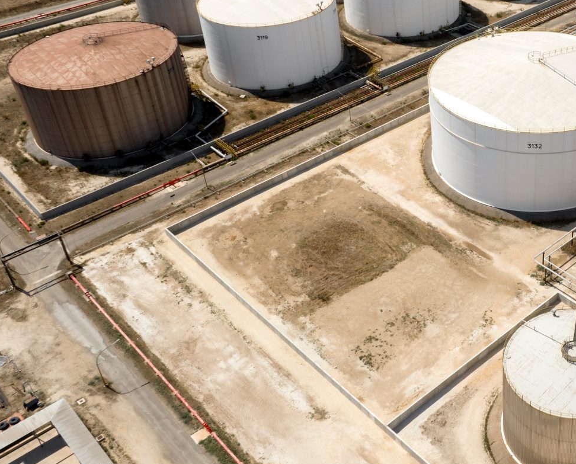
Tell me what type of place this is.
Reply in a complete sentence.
What you see here is an industrial area.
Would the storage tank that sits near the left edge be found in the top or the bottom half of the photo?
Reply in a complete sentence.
You can find the storage tank that sits near the left edge in the top half.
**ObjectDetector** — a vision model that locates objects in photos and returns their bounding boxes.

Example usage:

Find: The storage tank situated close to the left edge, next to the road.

[7,18,208,168]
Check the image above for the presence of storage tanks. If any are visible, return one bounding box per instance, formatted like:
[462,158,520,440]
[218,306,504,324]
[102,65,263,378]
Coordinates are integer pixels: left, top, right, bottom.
[7,18,208,168]
[423,26,576,218]
[196,0,354,95]
[338,0,469,41]
[485,302,576,464]
[132,0,203,39]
